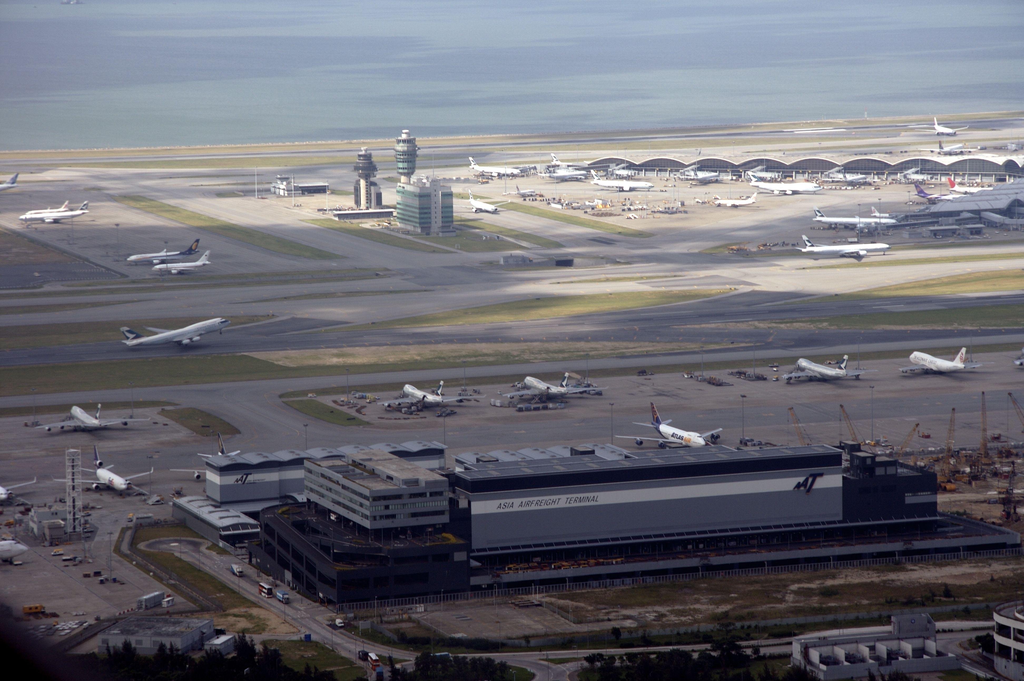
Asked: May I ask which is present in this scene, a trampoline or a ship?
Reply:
ship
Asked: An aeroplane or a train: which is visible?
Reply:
aeroplane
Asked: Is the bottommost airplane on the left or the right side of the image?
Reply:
left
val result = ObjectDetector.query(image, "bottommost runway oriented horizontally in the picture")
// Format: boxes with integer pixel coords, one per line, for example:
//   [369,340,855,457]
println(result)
[0,230,1024,366]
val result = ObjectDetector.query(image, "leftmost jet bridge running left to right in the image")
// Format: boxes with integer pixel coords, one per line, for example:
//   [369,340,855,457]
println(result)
[514,165,546,178]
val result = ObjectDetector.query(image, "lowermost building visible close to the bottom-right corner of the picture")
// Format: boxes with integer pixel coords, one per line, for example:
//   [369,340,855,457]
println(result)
[771,596,957,679]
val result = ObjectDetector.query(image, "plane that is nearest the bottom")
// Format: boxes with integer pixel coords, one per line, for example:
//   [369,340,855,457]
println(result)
[124,318,237,351]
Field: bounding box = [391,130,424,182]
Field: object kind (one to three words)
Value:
building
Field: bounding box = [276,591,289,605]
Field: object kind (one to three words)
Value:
vehicle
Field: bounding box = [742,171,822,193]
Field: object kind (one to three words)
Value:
airplane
